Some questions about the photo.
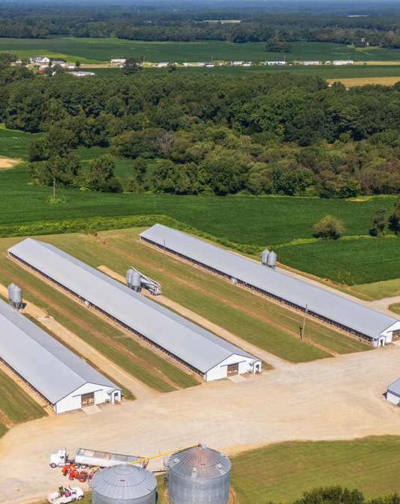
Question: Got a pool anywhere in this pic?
No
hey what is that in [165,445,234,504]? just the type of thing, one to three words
silo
